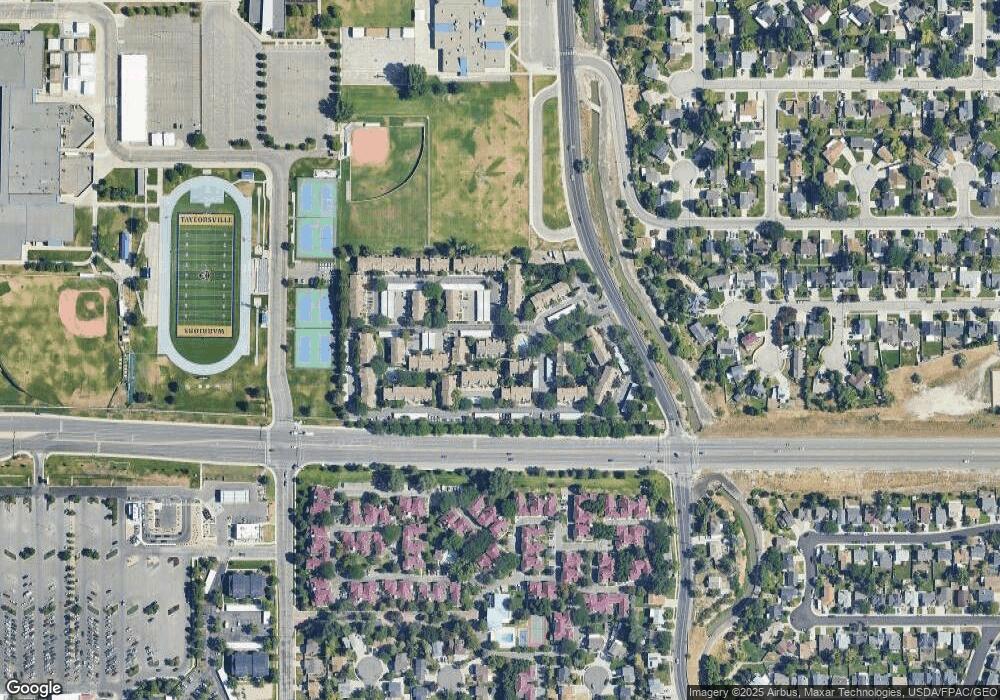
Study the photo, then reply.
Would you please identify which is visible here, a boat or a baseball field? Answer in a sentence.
The one in the frame is a baseball field.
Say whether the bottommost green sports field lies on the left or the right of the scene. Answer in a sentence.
It is on the left.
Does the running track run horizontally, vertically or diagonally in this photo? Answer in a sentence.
I'd say the running track is aligned vertically in the picture.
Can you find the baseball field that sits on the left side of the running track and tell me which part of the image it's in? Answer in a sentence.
You can find the baseball field that sits on the left side of the running track in the left area of the picture.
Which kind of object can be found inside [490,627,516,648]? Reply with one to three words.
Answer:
swimming pool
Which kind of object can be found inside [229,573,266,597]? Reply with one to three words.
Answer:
building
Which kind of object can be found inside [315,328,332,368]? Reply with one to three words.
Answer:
tennis court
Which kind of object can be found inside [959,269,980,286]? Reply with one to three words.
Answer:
house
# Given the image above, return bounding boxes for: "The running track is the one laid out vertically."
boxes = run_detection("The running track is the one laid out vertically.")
[158,177,251,375]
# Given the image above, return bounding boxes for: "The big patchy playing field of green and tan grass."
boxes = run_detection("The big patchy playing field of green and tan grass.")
[340,77,530,252]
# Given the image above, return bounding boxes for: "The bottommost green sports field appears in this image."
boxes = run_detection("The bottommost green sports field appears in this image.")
[171,191,240,364]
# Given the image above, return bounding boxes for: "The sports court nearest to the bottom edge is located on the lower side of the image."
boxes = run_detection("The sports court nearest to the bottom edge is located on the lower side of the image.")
[527,616,547,647]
